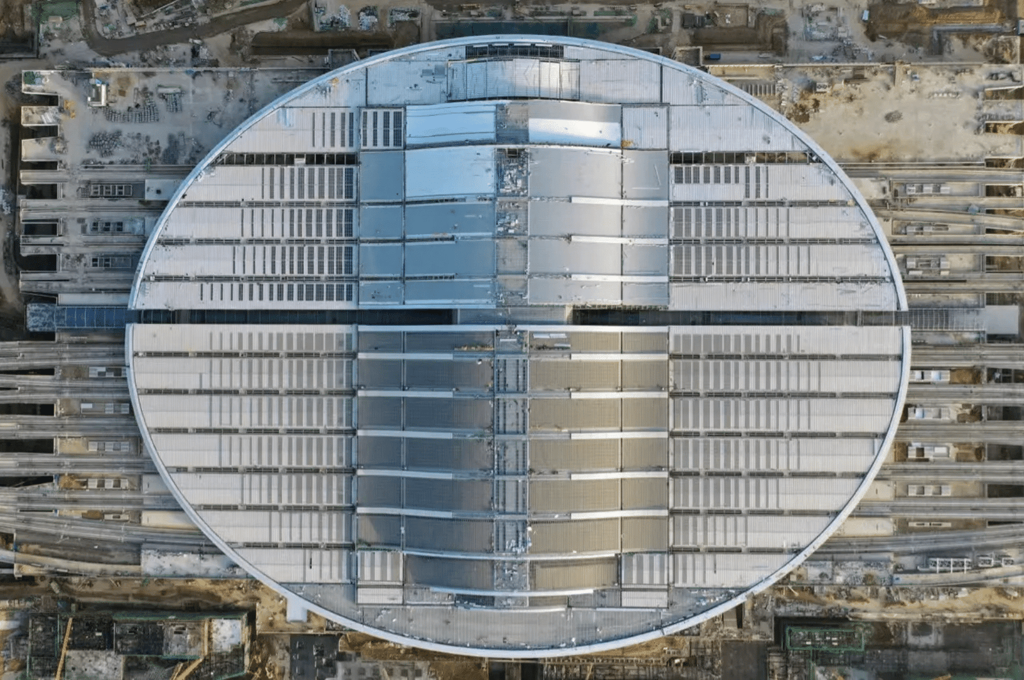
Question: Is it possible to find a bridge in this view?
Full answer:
Yes, I can see a bridge in this picture.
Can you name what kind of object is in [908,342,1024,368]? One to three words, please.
bridge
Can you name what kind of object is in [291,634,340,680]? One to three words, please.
building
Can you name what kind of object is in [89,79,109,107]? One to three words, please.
shed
